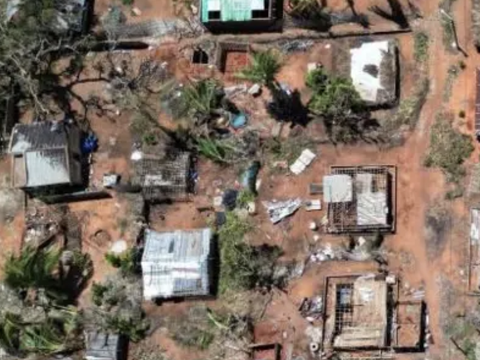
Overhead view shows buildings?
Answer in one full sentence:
Yes, there's a building down there.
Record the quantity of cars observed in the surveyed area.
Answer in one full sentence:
Not a single car can be seen.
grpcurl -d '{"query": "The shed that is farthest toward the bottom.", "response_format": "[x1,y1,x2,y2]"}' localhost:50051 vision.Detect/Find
[84,330,128,360]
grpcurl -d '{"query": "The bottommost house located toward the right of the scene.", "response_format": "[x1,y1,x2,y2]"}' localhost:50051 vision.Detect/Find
[324,272,427,350]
